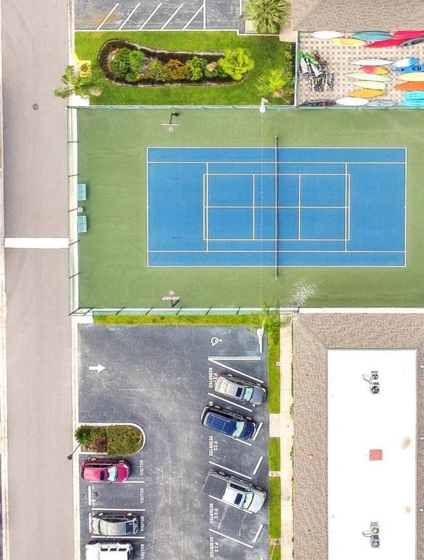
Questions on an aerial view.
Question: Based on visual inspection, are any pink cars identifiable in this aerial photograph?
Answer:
Yes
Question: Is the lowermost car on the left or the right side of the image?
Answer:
left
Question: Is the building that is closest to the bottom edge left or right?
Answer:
right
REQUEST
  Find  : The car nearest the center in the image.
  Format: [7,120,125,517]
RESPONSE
[214,374,267,407]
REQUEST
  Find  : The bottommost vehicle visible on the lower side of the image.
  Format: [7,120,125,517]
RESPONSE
[86,540,134,560]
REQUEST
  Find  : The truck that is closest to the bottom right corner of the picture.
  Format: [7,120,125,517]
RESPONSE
[201,470,267,512]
